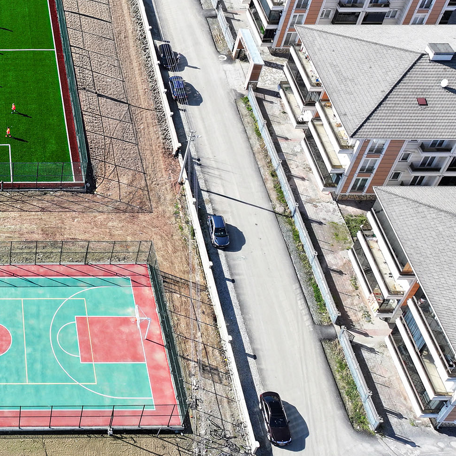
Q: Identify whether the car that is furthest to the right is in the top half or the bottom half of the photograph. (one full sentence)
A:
Seen from above, the car that is furthest to the right lies in the bottom half of the view.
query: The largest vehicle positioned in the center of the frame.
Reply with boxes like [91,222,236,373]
[207,207,234,246]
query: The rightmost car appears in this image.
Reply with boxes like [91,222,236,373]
[257,385,298,442]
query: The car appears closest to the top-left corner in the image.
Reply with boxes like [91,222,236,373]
[160,38,179,65]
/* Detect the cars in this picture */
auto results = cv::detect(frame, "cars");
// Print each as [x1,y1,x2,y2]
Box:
[207,207,234,246]
[160,38,179,65]
[257,385,298,442]
[170,73,191,98]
